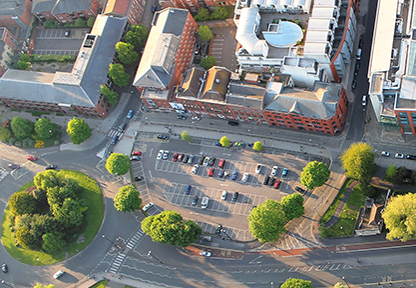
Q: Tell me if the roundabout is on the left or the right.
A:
left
